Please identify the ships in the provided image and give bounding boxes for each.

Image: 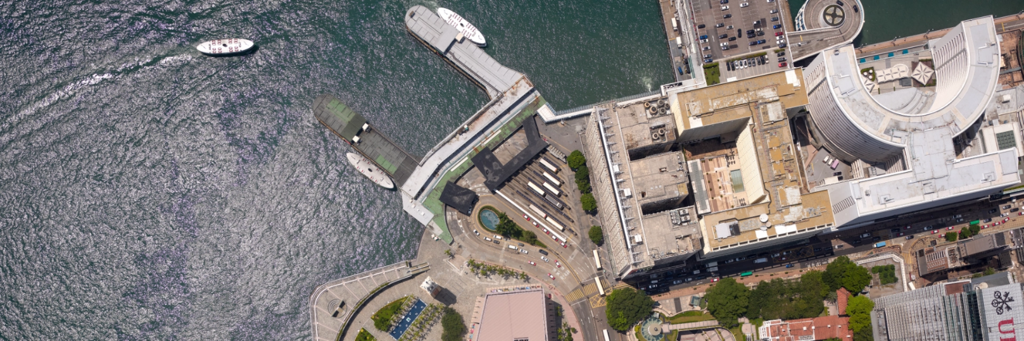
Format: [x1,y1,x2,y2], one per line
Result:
[198,39,256,58]
[347,154,393,190]
[440,10,485,47]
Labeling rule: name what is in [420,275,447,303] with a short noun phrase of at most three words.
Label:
building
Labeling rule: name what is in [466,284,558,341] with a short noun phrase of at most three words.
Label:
building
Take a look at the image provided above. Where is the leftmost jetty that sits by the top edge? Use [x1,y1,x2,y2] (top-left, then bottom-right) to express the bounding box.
[402,5,528,103]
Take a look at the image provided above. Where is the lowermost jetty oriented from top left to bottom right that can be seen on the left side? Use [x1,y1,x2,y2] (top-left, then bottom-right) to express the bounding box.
[313,94,421,192]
